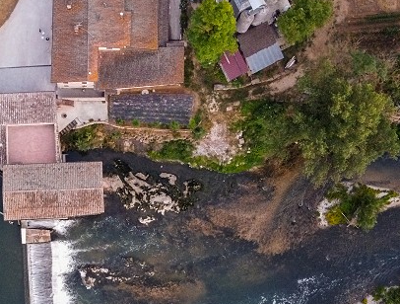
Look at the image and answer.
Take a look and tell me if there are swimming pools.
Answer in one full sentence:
No, the photo shows no swimming pool.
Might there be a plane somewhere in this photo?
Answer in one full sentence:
No, the scene contains no plane.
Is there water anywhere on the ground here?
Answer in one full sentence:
Yes, some water is visible.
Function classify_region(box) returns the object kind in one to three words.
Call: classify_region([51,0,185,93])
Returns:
house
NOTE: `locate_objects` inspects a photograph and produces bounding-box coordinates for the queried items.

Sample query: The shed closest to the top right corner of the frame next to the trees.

[236,23,284,77]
